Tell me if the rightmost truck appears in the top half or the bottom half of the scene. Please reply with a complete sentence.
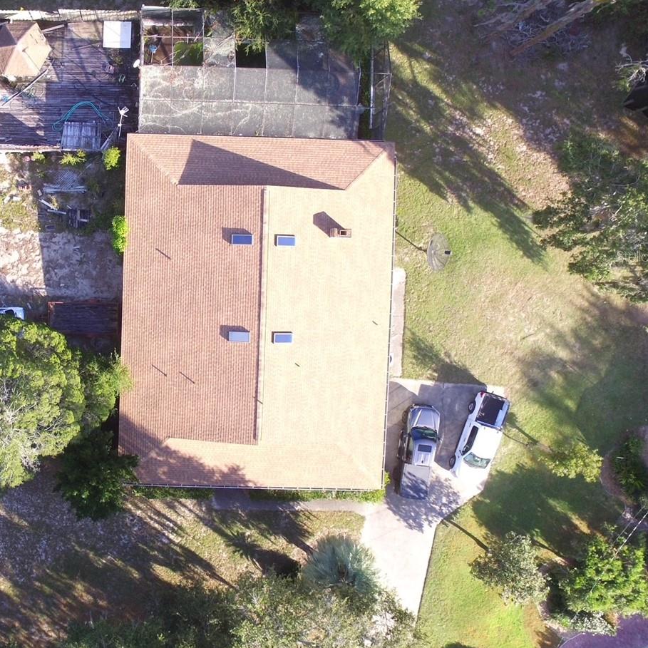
The rightmost truck is in the bottom half of the image.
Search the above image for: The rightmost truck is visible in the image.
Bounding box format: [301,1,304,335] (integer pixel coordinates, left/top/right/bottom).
[449,391,512,490]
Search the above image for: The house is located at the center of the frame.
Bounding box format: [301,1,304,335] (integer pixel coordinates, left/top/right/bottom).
[119,134,397,494]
